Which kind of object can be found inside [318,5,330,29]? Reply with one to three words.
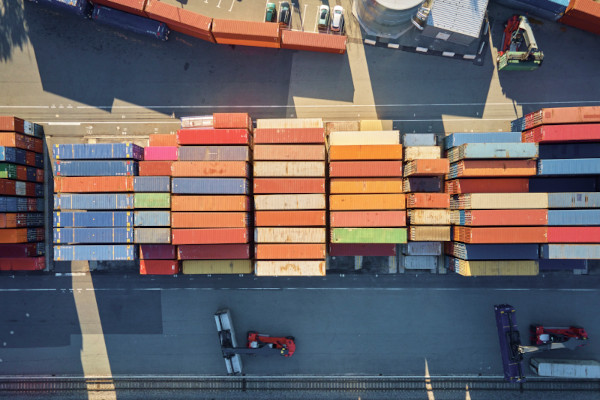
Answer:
vehicle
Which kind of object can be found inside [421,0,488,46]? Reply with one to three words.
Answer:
building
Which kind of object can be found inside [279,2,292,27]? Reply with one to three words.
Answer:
vehicle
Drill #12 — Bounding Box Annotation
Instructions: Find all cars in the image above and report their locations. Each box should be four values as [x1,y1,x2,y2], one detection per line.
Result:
[332,6,345,32]
[265,2,277,23]
[279,2,292,27]
[318,5,330,29]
